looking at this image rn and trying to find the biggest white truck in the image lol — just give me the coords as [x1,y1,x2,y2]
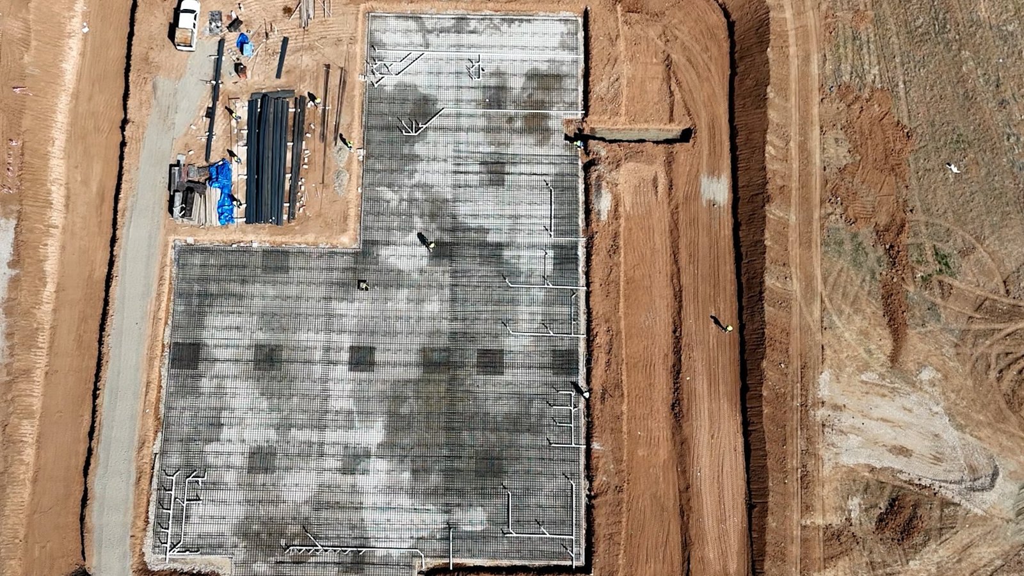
[173,1,203,53]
